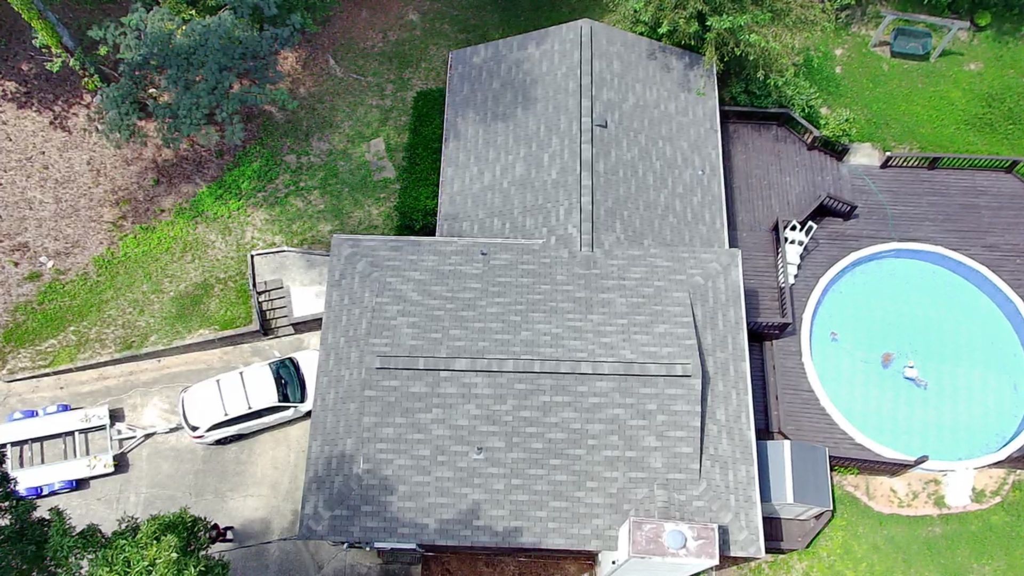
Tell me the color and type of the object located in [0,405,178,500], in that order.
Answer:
white trailer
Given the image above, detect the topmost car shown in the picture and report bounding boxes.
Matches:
[177,342,319,443]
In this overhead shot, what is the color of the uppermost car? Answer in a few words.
white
